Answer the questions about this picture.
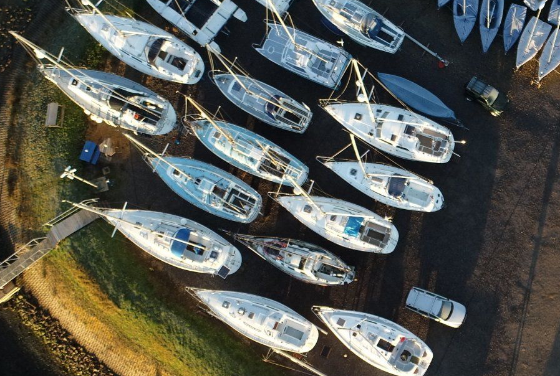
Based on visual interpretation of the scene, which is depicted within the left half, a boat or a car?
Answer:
boat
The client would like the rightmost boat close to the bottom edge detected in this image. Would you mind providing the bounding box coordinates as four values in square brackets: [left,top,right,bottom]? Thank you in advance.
[307,305,438,375]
